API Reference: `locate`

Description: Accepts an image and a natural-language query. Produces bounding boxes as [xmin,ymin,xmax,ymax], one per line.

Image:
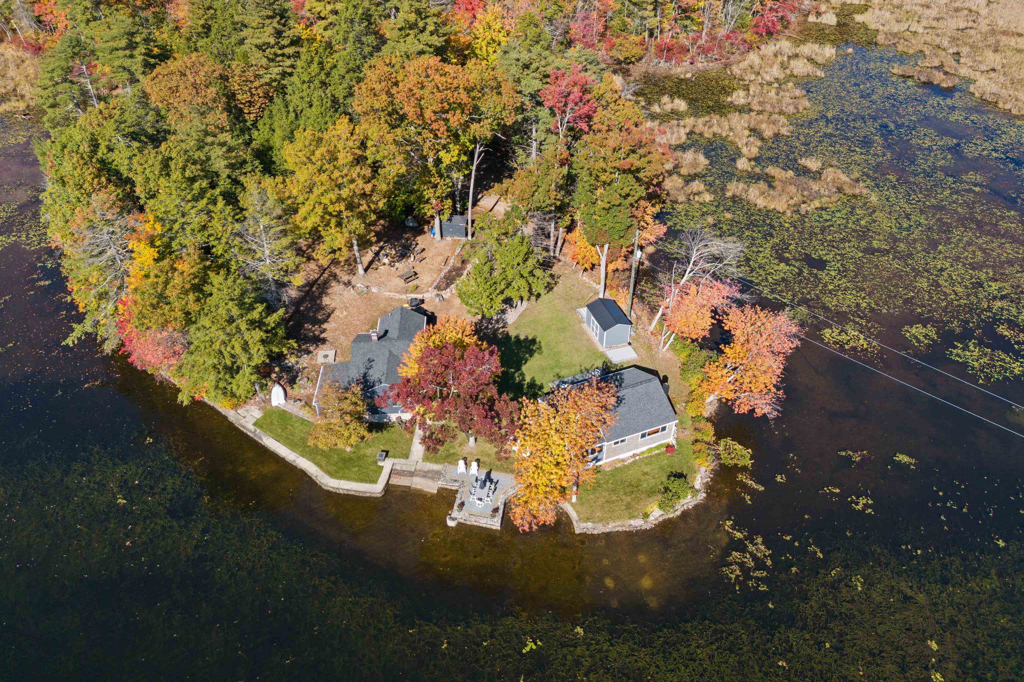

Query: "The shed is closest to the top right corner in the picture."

[583,298,632,348]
